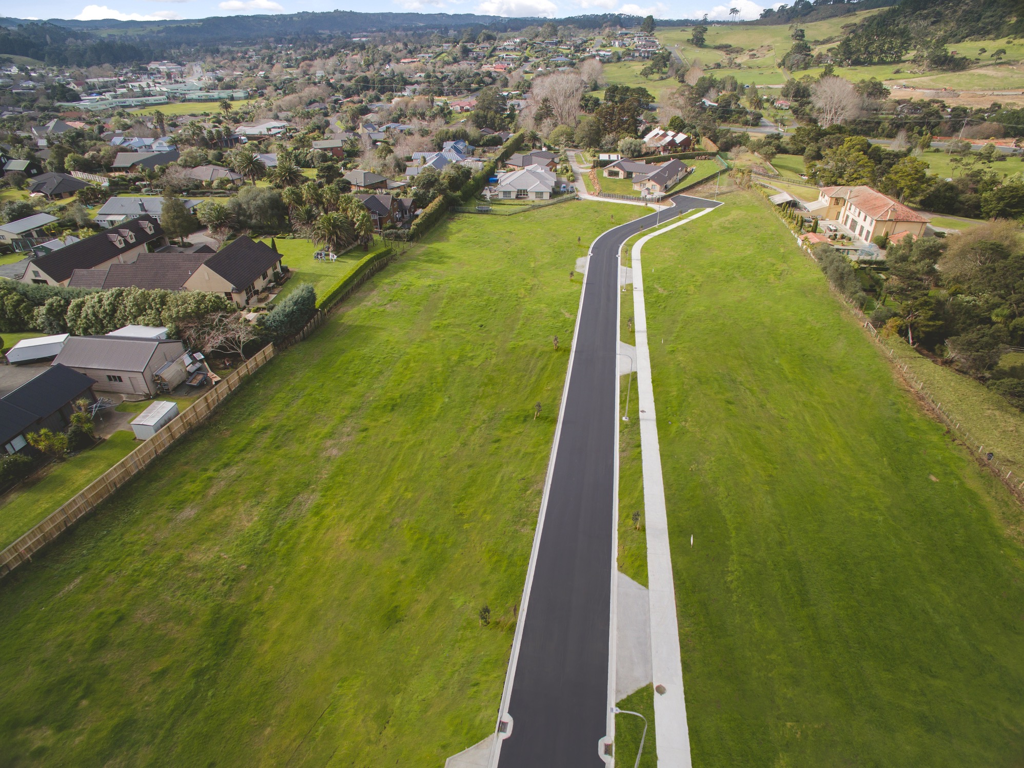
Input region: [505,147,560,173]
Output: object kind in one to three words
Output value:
house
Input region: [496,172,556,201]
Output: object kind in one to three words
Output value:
house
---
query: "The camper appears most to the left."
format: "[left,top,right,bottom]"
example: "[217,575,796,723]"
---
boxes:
[7,336,71,362]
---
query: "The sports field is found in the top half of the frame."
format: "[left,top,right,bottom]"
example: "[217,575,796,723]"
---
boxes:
[130,100,256,115]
